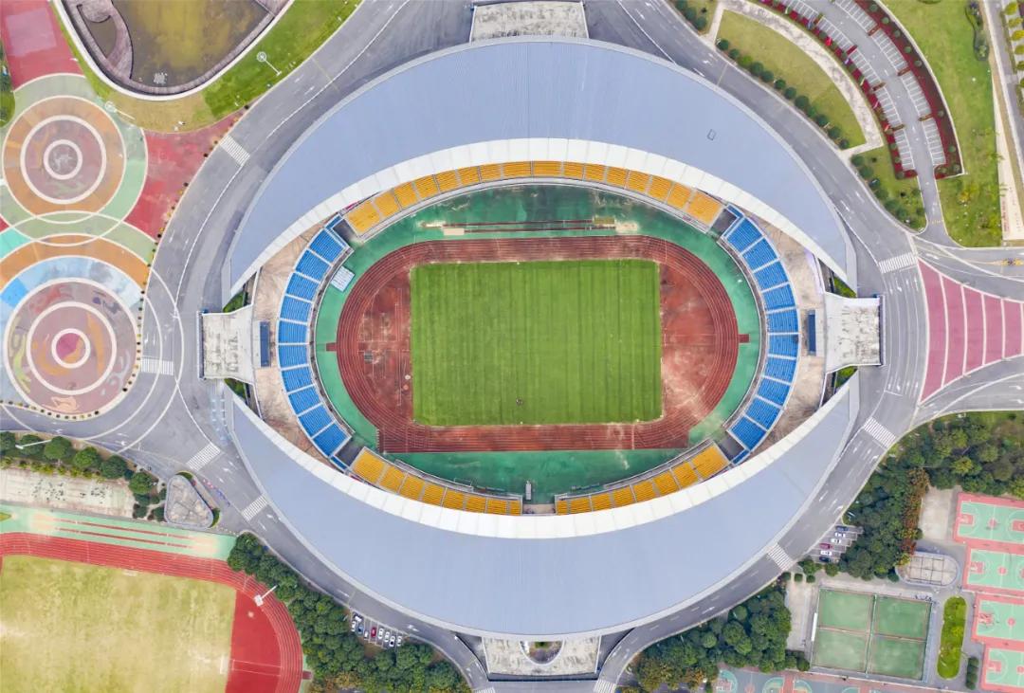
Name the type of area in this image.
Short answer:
sports ground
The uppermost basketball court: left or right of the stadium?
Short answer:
on its right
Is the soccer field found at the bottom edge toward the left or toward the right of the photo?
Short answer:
left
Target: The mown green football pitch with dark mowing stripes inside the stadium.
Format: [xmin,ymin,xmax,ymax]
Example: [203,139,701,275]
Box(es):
[411,258,663,425]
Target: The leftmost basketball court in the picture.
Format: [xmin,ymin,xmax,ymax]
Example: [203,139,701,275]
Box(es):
[712,664,787,693]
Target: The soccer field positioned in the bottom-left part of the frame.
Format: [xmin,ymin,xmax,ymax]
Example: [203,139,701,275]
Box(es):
[0,554,235,693]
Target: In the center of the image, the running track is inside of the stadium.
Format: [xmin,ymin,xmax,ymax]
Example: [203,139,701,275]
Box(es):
[326,188,748,499]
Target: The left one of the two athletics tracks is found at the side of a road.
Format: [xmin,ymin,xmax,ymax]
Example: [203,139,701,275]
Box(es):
[0,503,305,693]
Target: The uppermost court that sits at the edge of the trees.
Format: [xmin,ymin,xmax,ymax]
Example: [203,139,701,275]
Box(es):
[952,493,1024,547]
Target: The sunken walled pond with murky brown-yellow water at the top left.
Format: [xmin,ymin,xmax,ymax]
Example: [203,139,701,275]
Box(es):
[52,0,293,100]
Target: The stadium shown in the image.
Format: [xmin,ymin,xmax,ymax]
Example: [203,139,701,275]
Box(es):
[197,0,885,682]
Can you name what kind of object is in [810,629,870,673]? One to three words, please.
tennis court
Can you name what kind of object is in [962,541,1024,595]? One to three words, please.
basketball court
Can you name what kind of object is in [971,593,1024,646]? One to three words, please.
basketball court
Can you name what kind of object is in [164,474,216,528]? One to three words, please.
building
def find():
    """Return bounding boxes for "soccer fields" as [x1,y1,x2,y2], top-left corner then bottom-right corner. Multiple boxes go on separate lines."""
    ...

[411,258,663,425]
[0,554,235,693]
